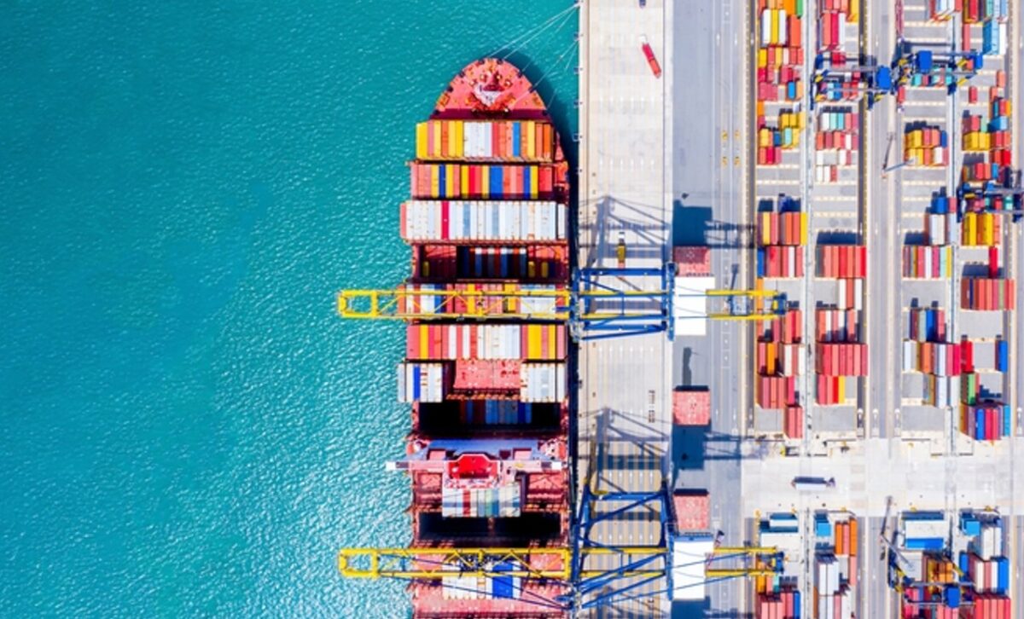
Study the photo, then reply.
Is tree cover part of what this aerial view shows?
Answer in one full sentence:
No, there's no tree cover in this view.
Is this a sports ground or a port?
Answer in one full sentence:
This image shows a port.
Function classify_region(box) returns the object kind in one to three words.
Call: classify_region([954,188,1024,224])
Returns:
crane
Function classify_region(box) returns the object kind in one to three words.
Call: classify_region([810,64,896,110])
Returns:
crane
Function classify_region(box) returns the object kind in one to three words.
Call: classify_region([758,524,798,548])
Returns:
shed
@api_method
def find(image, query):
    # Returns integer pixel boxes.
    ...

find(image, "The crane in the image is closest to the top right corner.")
[894,50,988,98]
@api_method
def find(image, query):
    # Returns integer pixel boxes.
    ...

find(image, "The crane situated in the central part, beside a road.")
[337,260,784,344]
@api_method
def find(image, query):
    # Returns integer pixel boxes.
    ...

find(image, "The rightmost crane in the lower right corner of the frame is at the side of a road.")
[894,553,987,608]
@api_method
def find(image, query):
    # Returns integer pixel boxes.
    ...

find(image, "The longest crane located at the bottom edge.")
[337,478,784,611]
